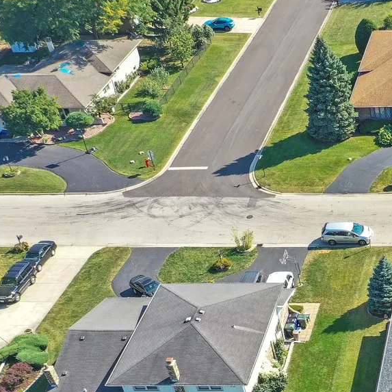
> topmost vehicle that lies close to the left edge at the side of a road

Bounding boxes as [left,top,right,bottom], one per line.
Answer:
[16,236,58,270]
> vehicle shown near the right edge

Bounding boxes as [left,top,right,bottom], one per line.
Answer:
[319,221,374,245]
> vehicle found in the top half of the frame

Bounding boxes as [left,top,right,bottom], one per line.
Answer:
[206,15,237,29]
